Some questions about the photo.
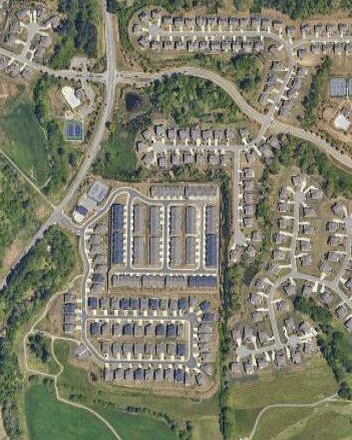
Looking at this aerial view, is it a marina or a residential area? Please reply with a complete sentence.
What you see here is a residential area.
